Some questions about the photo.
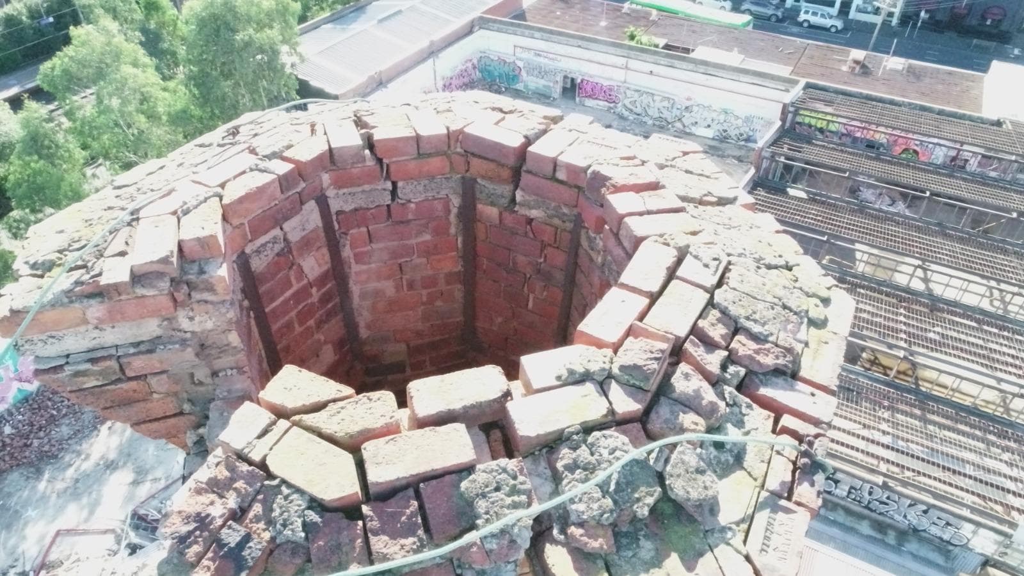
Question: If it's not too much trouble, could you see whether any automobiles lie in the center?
No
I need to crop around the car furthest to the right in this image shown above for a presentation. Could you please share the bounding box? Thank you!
[798,1,850,30]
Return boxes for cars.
[740,0,787,17]
[798,1,850,30]
[696,0,737,9]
